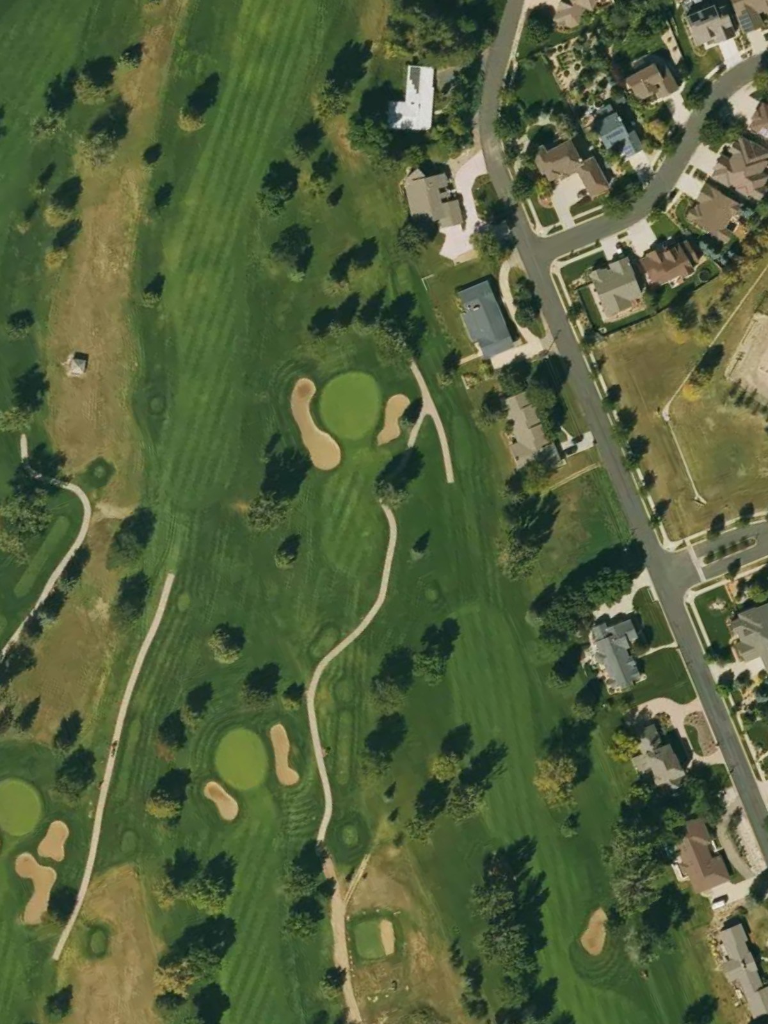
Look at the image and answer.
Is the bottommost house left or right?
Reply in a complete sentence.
The bottommost house sits on the right side.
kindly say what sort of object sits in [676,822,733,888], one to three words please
house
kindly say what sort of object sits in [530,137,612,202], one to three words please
house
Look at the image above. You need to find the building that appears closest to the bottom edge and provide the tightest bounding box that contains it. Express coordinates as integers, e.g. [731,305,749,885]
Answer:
[720,926,768,1016]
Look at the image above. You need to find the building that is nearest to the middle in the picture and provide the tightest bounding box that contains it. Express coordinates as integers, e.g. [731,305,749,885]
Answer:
[503,393,561,474]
